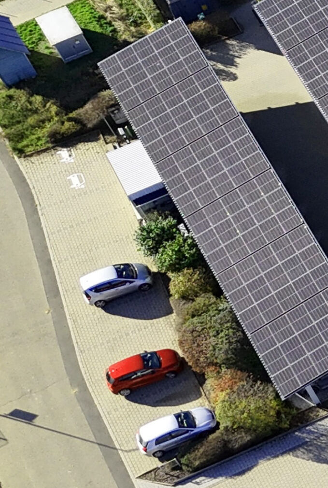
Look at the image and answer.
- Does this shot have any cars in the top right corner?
No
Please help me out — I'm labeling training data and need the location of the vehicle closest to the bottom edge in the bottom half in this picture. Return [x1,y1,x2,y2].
[135,407,215,456]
